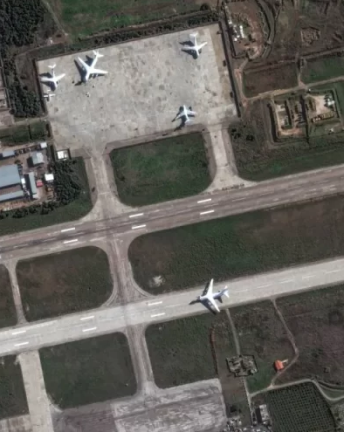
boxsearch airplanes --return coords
[177,104,198,125]
[200,279,232,310]
[184,32,208,57]
[42,62,67,89]
[79,49,109,81]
